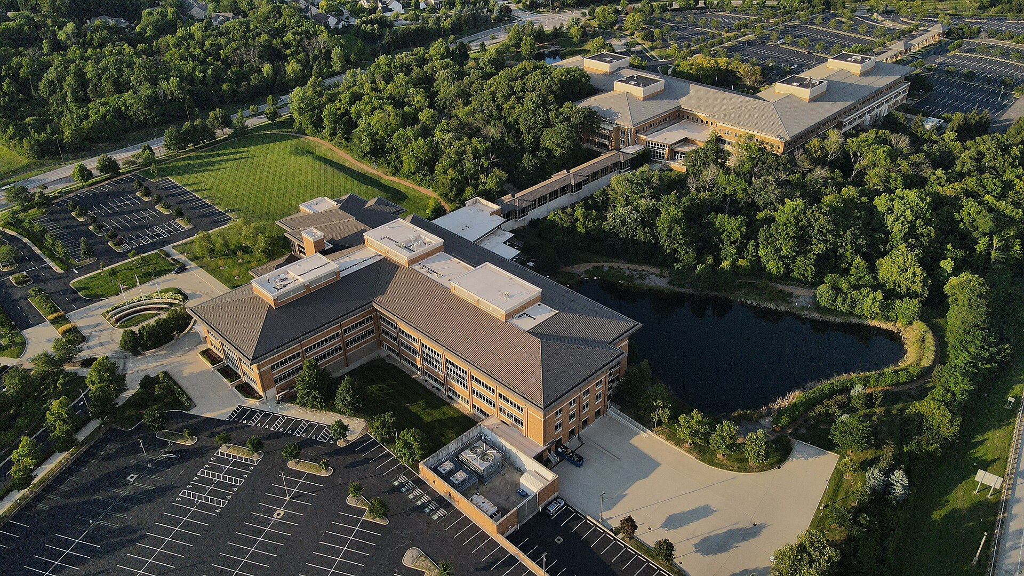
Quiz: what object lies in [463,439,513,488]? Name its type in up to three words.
cooling tower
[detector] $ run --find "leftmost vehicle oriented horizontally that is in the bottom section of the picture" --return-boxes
[159,447,183,461]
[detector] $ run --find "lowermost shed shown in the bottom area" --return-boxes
[521,473,546,497]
